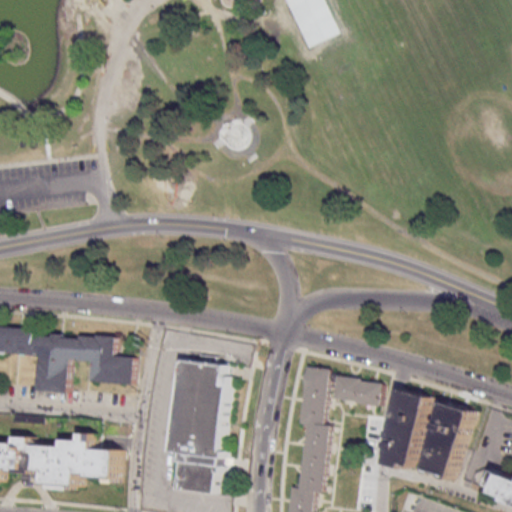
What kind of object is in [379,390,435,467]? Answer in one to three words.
building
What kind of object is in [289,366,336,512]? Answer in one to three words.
building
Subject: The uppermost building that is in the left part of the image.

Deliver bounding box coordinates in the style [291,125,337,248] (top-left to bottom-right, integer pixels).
[0,327,142,394]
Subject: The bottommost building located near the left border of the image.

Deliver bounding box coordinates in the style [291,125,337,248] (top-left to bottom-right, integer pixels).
[0,433,126,492]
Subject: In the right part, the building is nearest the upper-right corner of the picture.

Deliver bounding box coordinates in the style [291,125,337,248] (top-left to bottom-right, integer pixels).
[286,0,344,49]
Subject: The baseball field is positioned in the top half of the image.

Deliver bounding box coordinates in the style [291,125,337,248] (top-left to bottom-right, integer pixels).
[446,95,512,196]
